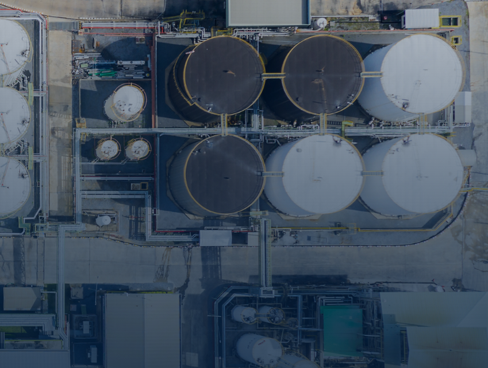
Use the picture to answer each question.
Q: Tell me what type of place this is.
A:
industrial area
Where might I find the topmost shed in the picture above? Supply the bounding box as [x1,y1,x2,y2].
[397,8,440,30]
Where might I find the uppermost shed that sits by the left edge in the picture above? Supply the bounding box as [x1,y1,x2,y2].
[2,287,43,311]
